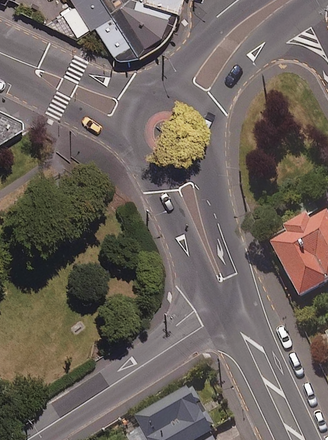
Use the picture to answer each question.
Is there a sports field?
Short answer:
No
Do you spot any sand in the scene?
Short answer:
No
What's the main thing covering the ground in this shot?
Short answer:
paved ground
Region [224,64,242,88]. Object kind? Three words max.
car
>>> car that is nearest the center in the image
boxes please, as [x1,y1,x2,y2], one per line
[160,192,174,214]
